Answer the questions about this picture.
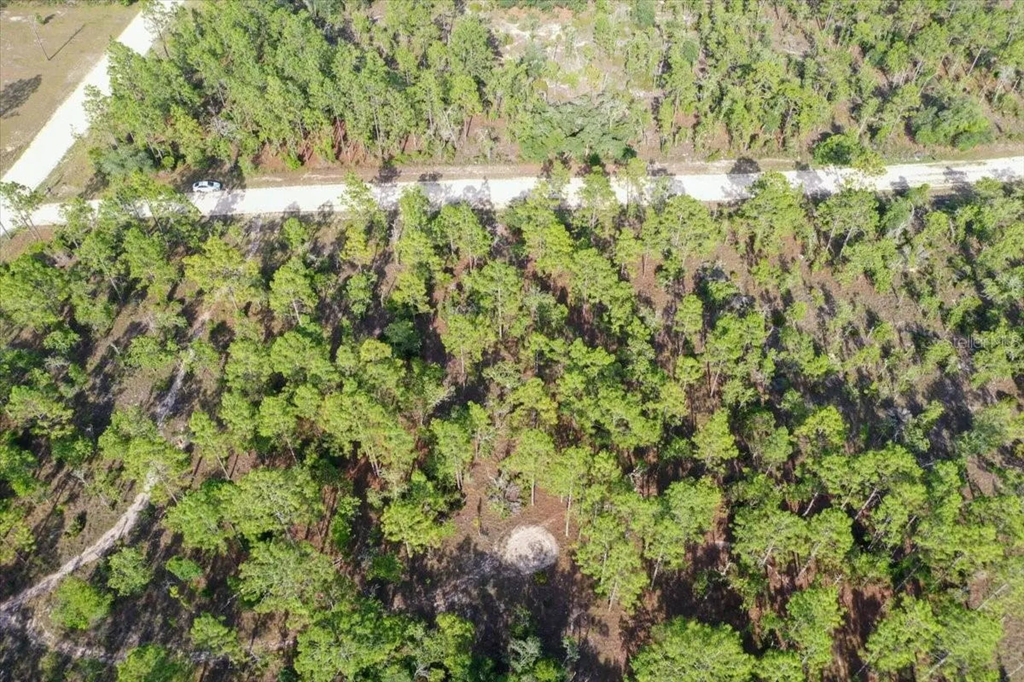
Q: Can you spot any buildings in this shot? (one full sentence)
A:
No, no building is visible in the view.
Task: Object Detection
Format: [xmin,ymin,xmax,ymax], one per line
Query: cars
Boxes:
[191,181,222,193]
